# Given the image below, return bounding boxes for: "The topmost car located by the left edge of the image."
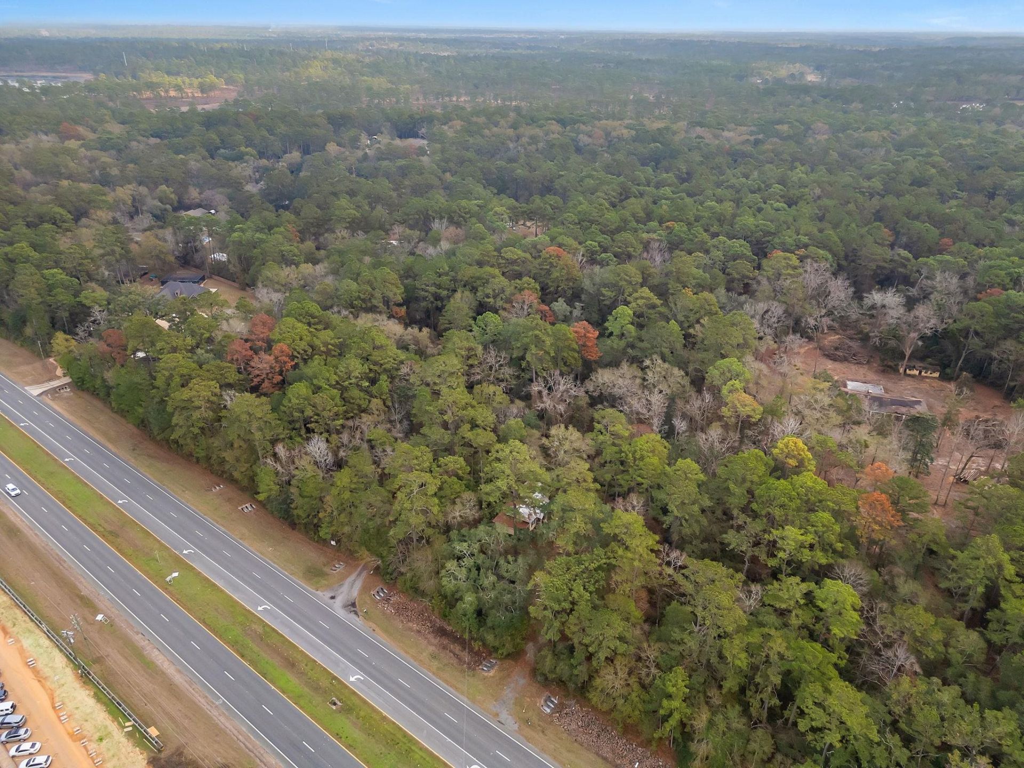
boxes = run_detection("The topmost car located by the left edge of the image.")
[4,482,18,494]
